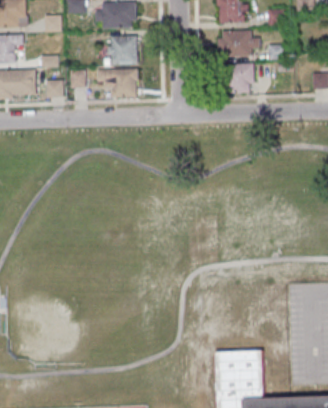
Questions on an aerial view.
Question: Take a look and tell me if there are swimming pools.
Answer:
No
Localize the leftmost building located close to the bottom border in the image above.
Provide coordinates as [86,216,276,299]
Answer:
[215,350,262,408]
